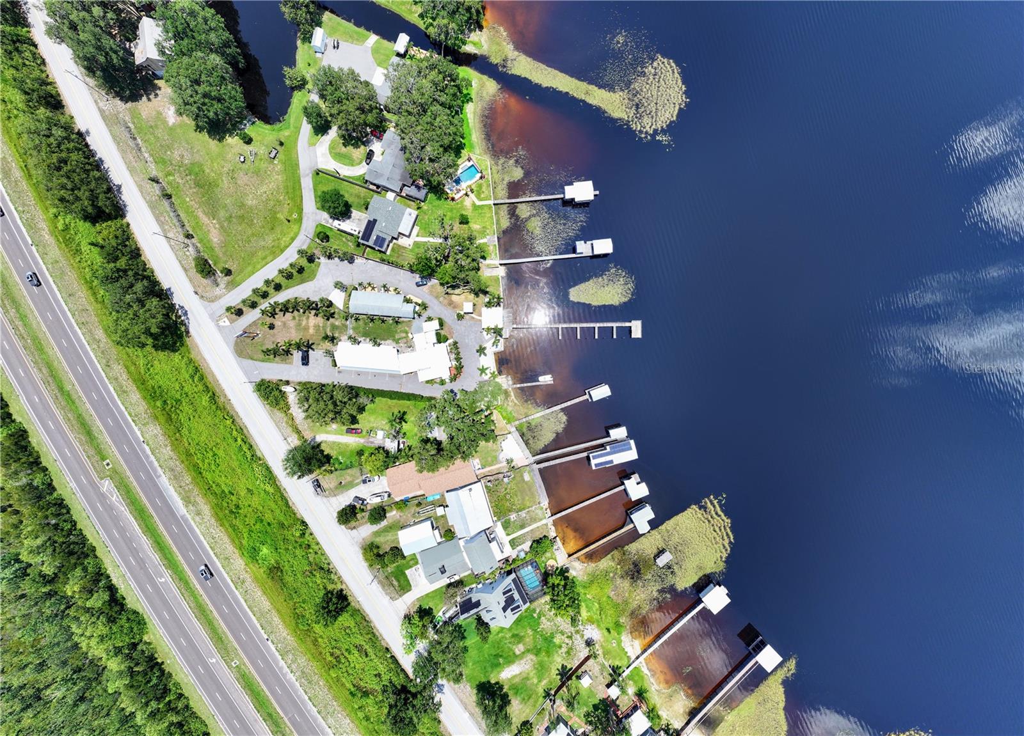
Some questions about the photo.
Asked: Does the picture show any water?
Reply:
Yes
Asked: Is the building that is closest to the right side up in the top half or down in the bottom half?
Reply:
bottom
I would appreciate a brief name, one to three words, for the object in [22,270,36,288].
vehicle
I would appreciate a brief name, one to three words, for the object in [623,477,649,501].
building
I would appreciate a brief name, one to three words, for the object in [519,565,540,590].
swimming pool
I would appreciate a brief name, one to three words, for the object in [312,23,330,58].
barn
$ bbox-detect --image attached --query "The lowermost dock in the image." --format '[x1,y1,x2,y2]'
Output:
[675,660,758,736]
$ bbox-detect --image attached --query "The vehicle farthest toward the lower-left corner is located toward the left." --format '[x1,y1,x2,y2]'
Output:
[197,565,210,582]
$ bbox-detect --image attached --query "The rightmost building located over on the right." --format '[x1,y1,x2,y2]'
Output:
[750,635,783,673]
